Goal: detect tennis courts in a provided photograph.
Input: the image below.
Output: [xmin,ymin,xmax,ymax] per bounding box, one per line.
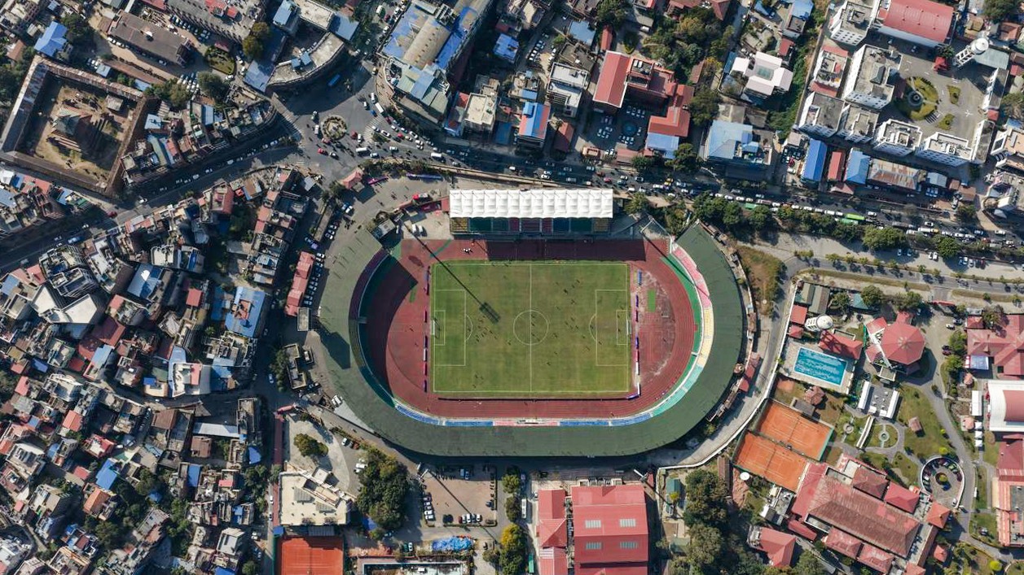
[759,401,837,461]
[281,536,343,575]
[734,433,809,491]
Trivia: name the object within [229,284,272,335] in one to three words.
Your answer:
building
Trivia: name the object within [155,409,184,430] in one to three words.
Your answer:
house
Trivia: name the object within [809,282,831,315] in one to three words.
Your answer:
shed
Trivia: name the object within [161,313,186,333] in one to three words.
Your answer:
house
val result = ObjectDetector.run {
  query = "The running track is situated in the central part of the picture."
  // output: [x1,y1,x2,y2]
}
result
[361,238,700,419]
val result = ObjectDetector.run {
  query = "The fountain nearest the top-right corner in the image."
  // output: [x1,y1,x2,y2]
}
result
[908,88,926,105]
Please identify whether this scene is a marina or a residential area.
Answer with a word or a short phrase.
residential area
